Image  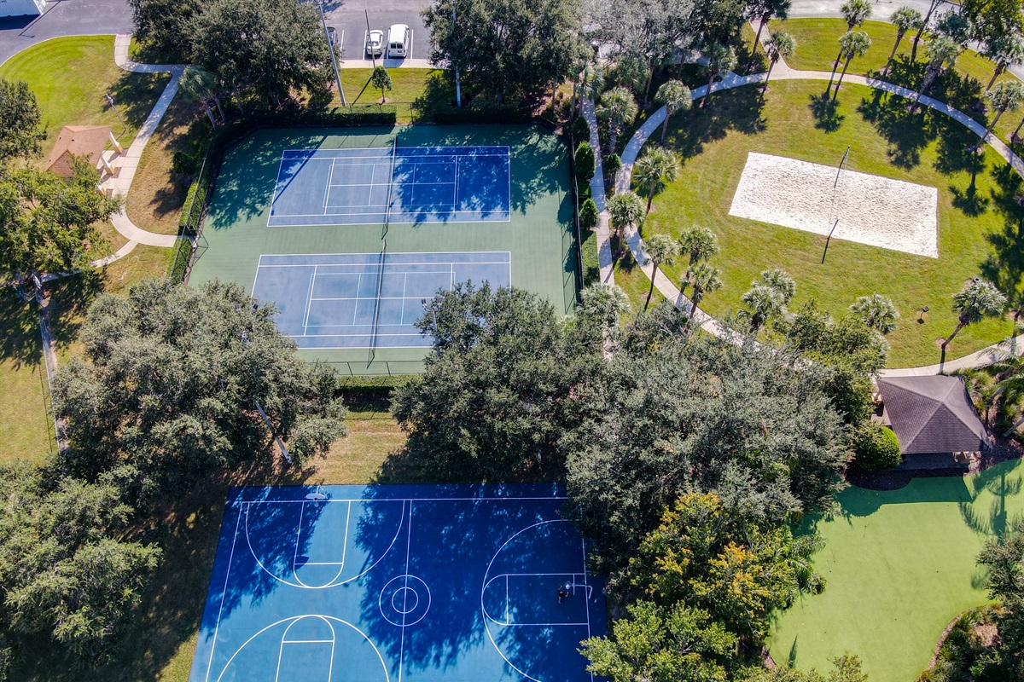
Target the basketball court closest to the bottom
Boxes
[189,481,608,682]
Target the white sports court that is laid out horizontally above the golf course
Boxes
[728,150,940,259]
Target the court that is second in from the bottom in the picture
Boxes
[241,251,512,350]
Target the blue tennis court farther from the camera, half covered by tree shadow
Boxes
[268,145,510,225]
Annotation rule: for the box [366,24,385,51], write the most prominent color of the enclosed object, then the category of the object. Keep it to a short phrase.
white car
